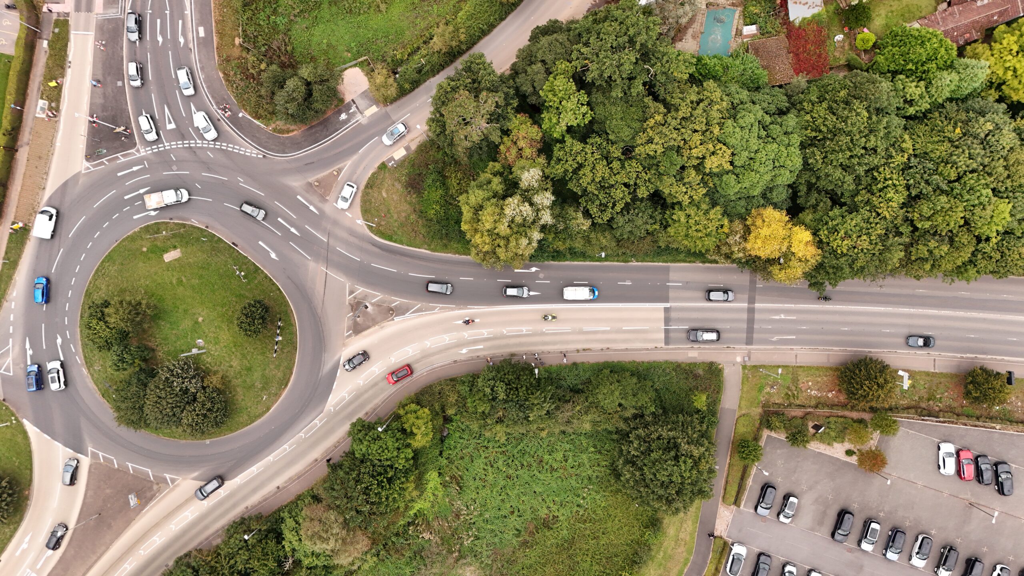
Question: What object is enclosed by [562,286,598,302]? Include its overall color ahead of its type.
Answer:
white vehicle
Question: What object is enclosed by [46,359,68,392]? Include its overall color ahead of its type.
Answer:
white car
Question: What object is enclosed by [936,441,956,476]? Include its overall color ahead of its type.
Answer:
white car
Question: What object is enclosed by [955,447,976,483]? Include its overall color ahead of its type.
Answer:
red car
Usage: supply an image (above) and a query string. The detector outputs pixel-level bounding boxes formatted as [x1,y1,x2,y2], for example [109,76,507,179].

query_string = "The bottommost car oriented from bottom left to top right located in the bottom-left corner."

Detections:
[43,520,71,553]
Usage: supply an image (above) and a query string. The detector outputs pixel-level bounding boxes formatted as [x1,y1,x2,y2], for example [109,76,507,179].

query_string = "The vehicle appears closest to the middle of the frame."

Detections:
[503,285,530,300]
